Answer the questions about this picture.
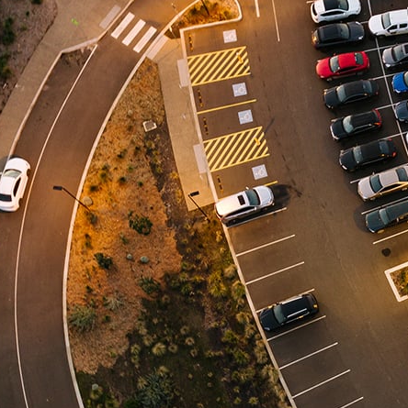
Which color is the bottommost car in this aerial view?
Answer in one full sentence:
The color of the bottommost car is black.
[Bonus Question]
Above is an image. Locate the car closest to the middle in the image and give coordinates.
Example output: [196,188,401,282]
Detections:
[213,184,277,223]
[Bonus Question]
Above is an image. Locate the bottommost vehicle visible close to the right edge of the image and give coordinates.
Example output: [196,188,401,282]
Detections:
[363,196,408,233]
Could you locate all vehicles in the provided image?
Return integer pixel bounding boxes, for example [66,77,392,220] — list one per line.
[338,137,398,171]
[328,107,384,142]
[393,99,408,125]
[310,0,362,23]
[381,41,408,70]
[323,76,380,108]
[213,184,277,223]
[367,0,408,34]
[0,157,32,213]
[391,67,408,97]
[258,292,322,330]
[315,50,371,81]
[356,164,408,199]
[311,17,366,50]
[363,196,408,233]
